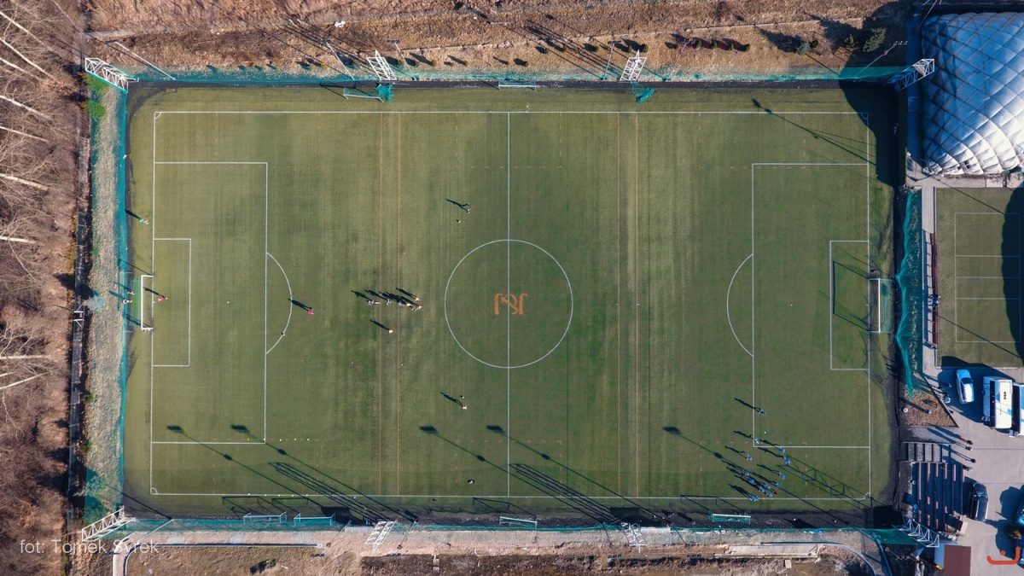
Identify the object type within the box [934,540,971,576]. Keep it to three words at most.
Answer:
shed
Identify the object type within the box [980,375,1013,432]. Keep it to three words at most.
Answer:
vehicle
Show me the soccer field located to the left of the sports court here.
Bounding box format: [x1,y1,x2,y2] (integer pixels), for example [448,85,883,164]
[125,89,895,513]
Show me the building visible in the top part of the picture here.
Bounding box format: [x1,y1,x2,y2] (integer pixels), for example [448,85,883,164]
[921,11,1024,177]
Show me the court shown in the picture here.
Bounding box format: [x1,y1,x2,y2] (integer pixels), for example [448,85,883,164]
[937,187,1024,368]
